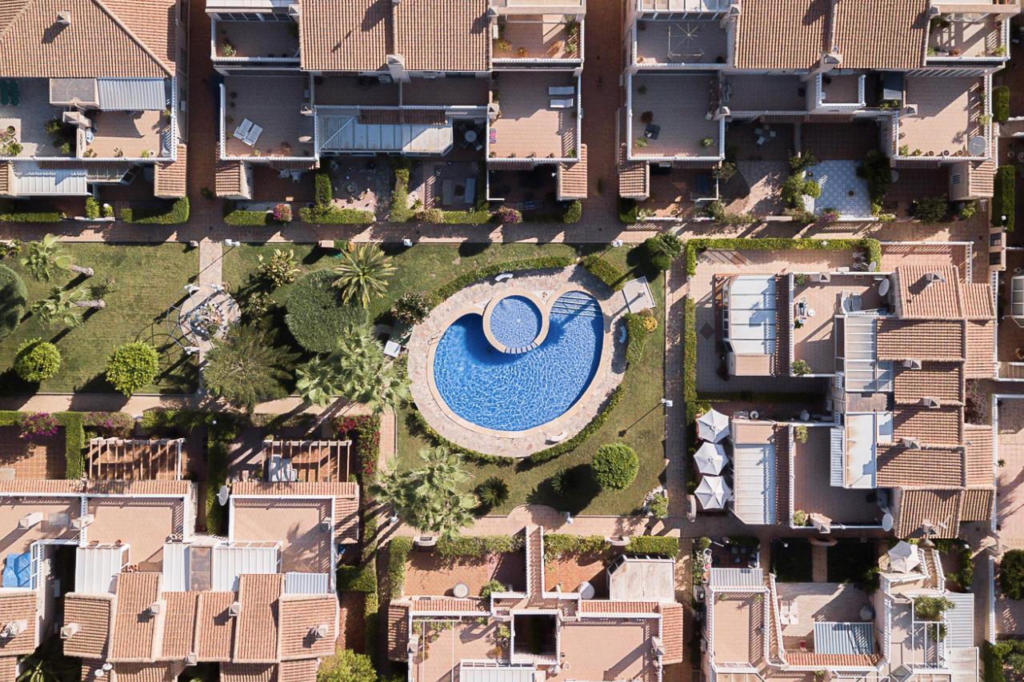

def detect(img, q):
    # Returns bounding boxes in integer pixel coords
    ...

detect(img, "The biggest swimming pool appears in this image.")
[425,283,611,438]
